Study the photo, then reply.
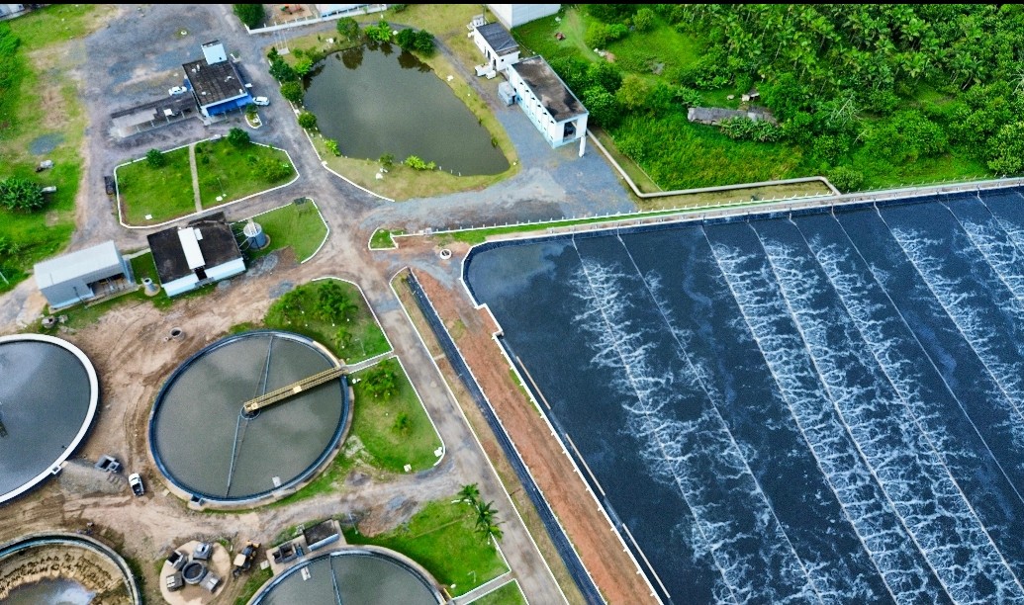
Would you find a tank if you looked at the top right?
No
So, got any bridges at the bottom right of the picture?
No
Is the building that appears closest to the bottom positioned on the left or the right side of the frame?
left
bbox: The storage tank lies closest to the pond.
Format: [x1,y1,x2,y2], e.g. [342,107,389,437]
[233,221,272,254]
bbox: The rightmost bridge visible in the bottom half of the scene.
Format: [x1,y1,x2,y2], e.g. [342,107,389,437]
[239,362,350,416]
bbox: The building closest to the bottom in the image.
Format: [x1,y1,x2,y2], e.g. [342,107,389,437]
[266,517,344,569]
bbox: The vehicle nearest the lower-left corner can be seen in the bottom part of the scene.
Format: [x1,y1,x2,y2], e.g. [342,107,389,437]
[127,473,146,500]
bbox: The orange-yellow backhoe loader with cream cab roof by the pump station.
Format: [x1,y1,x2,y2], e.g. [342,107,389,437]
[230,540,264,578]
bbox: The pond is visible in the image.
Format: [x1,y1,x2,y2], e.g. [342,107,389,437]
[305,46,507,177]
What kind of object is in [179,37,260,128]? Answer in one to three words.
building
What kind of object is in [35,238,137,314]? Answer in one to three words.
shed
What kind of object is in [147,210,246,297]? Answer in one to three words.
building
